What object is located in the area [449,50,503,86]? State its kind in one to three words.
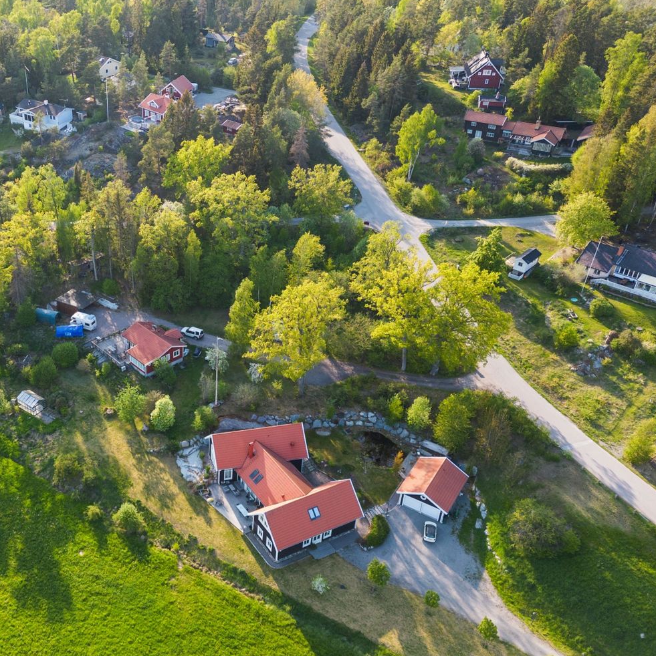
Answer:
house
